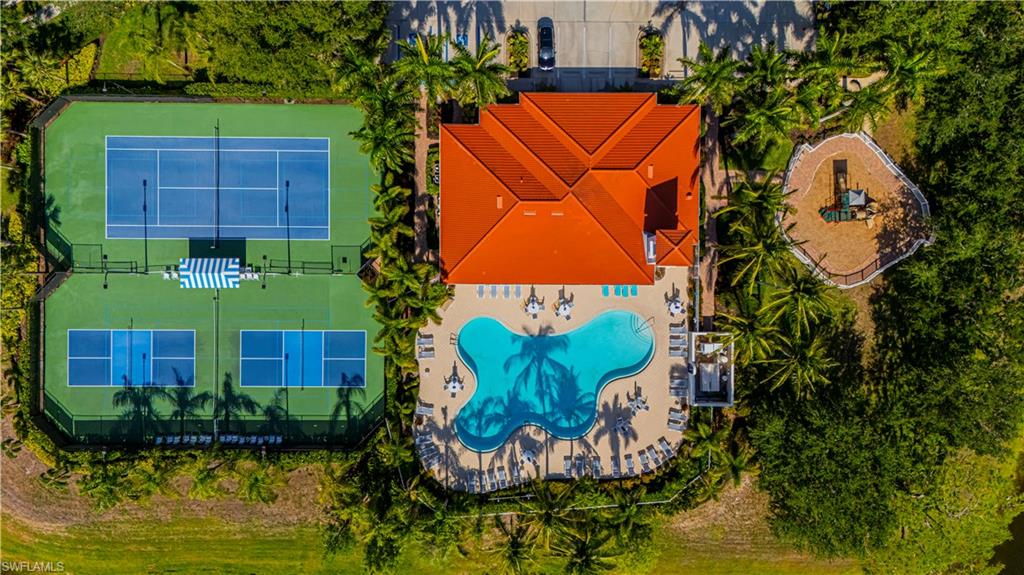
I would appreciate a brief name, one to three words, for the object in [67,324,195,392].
sports court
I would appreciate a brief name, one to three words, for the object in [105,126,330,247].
tennis court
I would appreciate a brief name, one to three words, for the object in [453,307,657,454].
swimming pool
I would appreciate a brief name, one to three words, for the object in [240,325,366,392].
sports court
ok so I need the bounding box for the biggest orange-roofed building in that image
[439,92,702,285]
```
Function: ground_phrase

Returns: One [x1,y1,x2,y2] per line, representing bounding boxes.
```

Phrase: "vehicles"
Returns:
[536,19,557,69]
